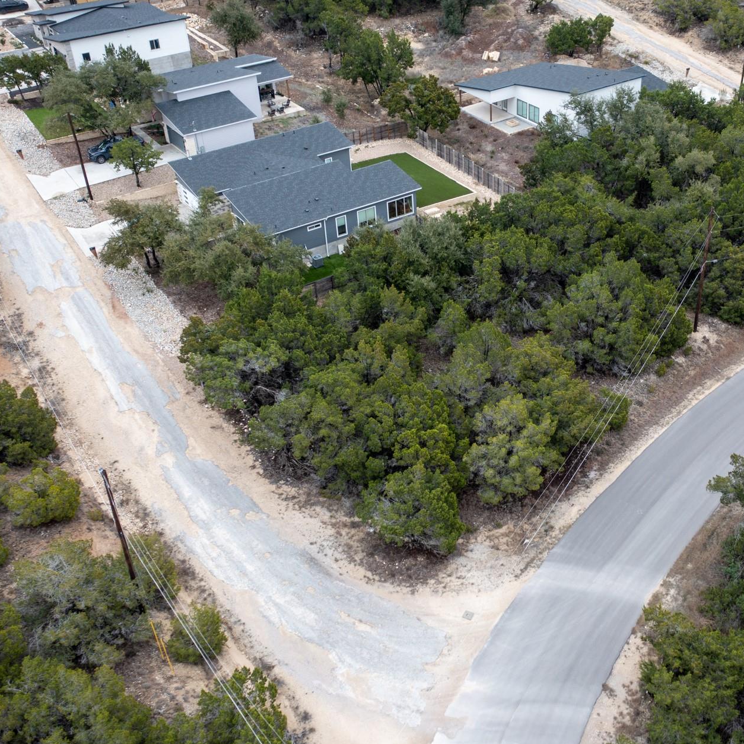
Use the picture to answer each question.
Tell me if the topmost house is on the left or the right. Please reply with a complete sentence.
You can find the topmost house on the left side of the picture.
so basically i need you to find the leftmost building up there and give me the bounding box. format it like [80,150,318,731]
[25,0,191,68]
